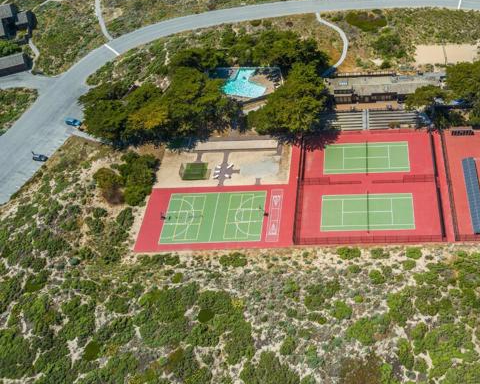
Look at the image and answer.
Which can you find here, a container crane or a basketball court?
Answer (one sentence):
Of the two, only a basketball court appears.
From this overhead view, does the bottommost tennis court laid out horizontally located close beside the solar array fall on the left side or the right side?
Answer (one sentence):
The bottommost tennis court laid out horizontally located close beside the solar array is on the right side of the image.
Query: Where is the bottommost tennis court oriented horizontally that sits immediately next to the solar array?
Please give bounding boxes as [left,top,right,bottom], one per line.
[294,181,448,247]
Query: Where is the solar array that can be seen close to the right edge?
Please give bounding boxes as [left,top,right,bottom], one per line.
[461,156,480,235]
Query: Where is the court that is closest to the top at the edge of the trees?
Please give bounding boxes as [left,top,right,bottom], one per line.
[298,128,439,185]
